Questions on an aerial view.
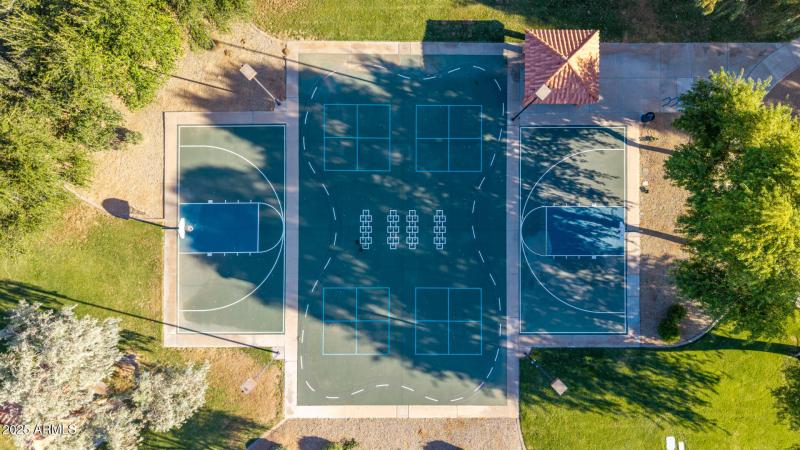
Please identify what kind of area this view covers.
sports ground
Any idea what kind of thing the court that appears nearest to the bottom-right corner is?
basketball court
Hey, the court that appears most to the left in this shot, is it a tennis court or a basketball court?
basketball court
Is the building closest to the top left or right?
right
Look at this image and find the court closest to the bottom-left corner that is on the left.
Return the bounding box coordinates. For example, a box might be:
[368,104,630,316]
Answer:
[177,124,285,334]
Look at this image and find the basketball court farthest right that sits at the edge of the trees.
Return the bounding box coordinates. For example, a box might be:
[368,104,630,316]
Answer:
[520,126,626,334]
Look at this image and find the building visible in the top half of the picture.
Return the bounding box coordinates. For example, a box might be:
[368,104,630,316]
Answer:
[523,27,602,105]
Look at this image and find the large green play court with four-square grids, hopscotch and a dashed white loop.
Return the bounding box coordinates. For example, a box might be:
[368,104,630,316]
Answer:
[298,53,507,406]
